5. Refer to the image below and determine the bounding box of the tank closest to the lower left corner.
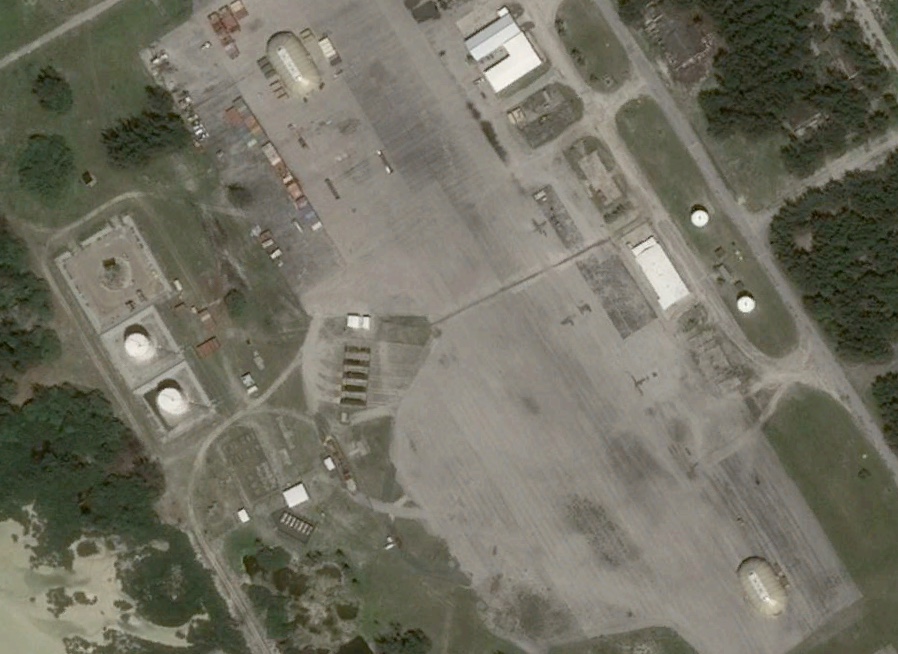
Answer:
[157,387,189,418]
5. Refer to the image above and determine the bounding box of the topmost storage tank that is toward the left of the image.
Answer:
[125,333,156,364]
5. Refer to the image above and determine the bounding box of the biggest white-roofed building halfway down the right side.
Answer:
[638,245,691,312]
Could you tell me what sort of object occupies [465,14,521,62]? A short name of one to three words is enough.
shed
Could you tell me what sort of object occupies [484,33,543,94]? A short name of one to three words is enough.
building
